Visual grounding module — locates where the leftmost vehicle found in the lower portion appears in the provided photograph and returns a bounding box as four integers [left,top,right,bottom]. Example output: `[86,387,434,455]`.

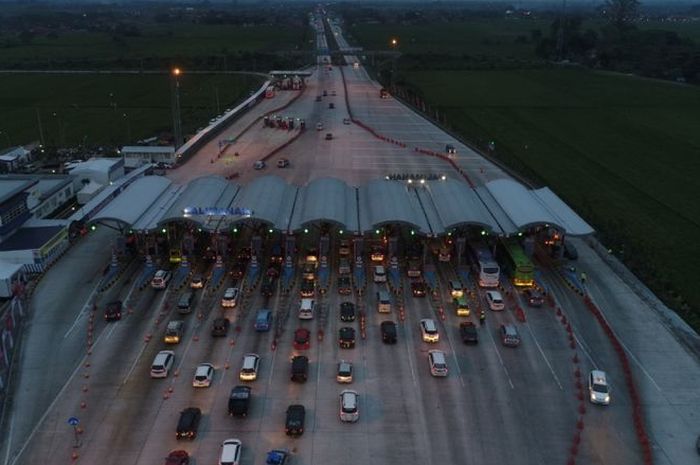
[100,302,125,323]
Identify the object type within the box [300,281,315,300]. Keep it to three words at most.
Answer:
car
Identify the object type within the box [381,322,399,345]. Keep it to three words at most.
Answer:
car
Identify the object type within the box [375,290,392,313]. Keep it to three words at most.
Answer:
vehicle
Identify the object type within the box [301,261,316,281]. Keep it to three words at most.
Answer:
vehicle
